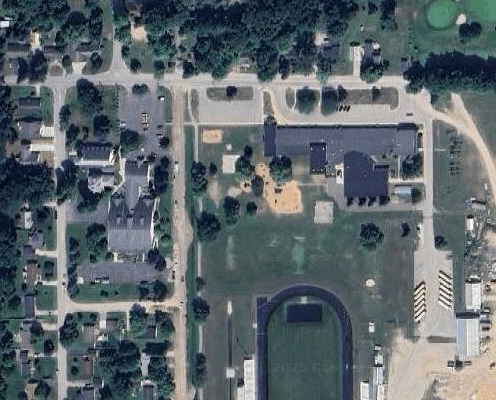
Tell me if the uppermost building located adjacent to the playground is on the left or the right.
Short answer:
right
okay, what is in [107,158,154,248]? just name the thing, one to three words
building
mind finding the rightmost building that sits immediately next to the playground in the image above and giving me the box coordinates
[265,124,416,196]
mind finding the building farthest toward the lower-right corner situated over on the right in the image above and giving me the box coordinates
[457,317,478,357]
